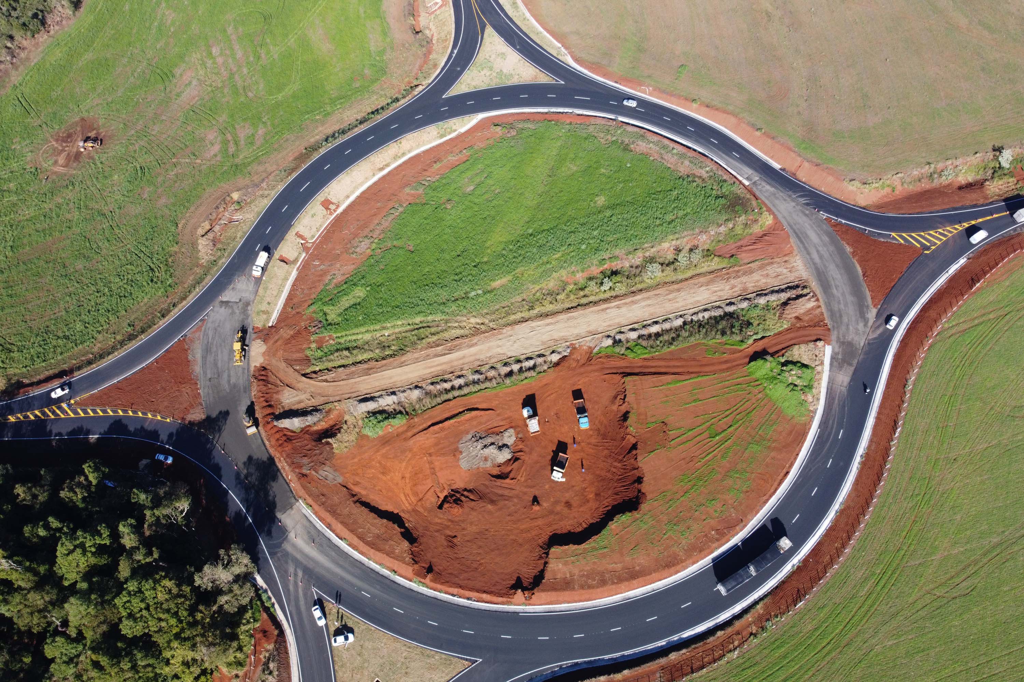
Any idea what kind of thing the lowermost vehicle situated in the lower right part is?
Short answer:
truck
